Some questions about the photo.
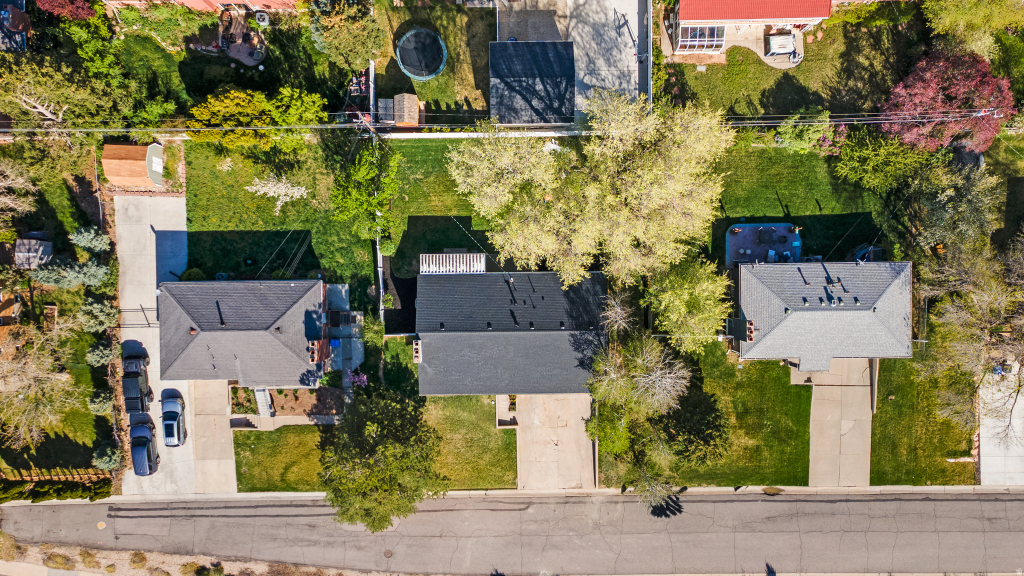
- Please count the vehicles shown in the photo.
three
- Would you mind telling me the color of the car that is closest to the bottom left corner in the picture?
blue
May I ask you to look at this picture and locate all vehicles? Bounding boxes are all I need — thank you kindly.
[119,357,147,417]
[159,396,184,445]
[131,424,159,475]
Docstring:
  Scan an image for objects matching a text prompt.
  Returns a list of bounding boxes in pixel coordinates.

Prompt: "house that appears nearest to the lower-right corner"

[721,260,913,373]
